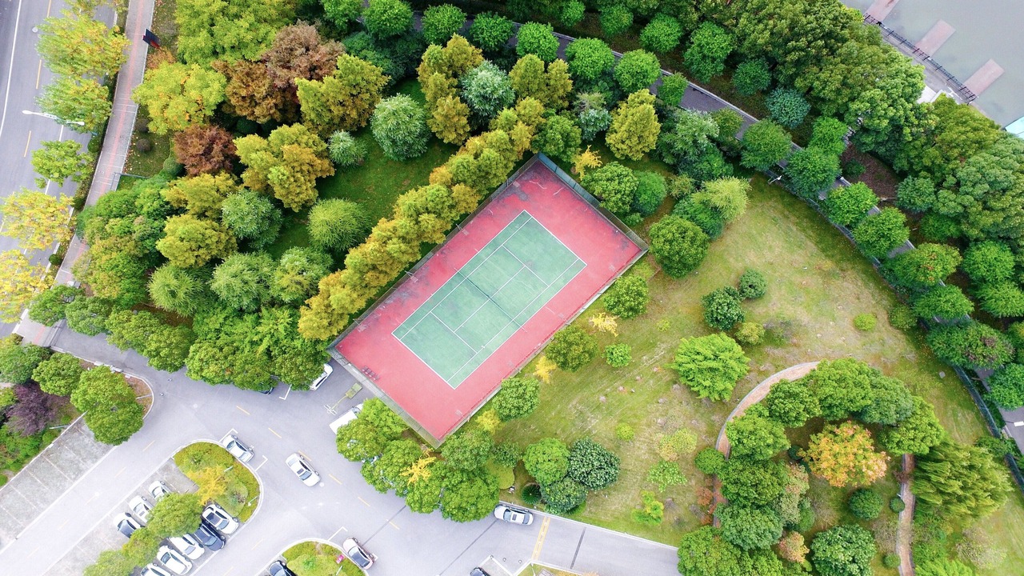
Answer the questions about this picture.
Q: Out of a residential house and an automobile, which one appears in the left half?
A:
automobile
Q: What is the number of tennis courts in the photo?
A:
1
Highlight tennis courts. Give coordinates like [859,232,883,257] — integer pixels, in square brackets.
[330,156,643,443]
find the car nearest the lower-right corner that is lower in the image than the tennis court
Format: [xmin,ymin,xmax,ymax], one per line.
[494,503,533,525]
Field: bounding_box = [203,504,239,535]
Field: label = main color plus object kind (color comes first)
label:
white car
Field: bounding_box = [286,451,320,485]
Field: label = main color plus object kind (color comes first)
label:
white car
